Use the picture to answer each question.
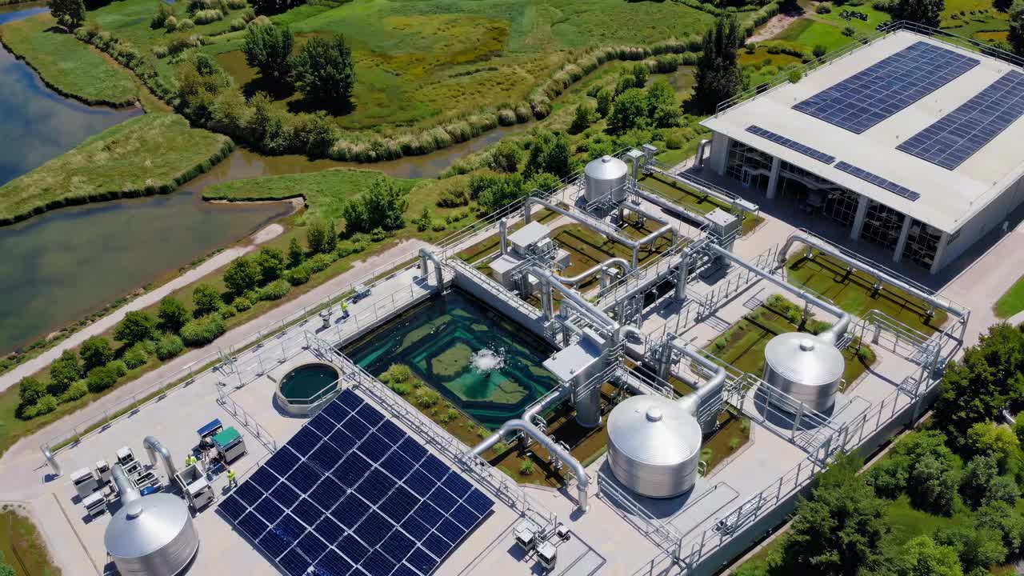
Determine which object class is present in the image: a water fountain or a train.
water fountain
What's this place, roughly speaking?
industrial area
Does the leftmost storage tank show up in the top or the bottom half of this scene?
bottom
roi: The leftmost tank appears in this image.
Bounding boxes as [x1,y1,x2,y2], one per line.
[99,492,206,576]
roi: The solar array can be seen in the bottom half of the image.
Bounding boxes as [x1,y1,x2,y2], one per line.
[218,390,494,576]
